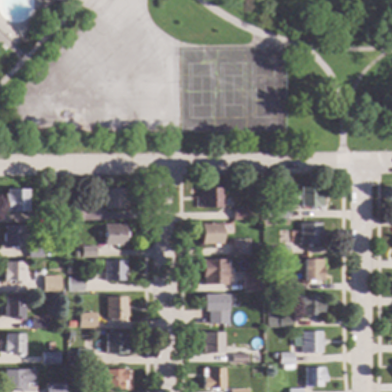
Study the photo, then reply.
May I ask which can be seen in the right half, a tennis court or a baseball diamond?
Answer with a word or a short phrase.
tennis court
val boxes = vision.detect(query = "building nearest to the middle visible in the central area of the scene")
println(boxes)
[196,187,226,210]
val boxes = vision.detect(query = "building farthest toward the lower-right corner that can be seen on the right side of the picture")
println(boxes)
[306,366,332,390]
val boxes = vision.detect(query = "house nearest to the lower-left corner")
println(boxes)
[6,370,36,392]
